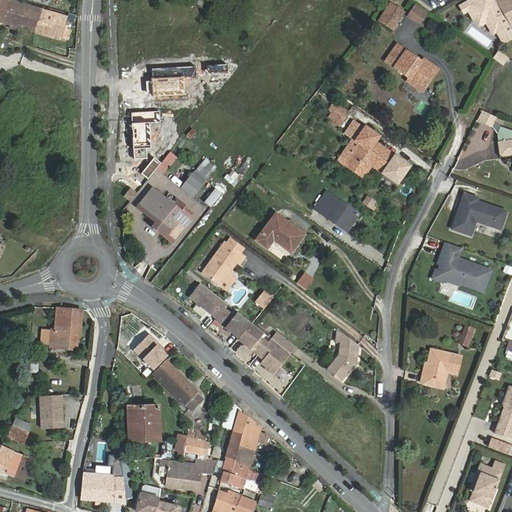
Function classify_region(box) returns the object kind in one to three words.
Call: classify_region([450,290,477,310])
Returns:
swimming pool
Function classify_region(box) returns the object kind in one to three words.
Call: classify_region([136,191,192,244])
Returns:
building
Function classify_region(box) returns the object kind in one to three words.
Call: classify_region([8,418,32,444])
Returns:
shed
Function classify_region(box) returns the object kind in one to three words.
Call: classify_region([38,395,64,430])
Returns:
house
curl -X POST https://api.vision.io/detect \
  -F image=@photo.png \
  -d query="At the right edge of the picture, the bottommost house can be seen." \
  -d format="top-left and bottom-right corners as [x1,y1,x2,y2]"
[470,460,506,512]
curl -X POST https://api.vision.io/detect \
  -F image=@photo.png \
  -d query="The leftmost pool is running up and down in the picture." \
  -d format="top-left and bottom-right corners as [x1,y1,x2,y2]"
[95,442,107,463]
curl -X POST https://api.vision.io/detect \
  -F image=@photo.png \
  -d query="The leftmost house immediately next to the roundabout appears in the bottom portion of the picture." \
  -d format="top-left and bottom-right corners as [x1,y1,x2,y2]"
[48,307,83,351]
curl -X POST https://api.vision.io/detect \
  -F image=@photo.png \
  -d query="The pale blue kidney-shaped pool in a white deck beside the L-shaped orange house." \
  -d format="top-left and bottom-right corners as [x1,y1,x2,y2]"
[225,280,254,308]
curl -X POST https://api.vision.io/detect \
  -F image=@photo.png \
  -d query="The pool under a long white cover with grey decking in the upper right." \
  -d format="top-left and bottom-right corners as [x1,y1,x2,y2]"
[464,23,496,50]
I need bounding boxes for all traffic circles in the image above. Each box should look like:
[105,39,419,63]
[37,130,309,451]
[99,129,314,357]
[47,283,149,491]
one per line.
[50,225,117,298]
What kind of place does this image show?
residential area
